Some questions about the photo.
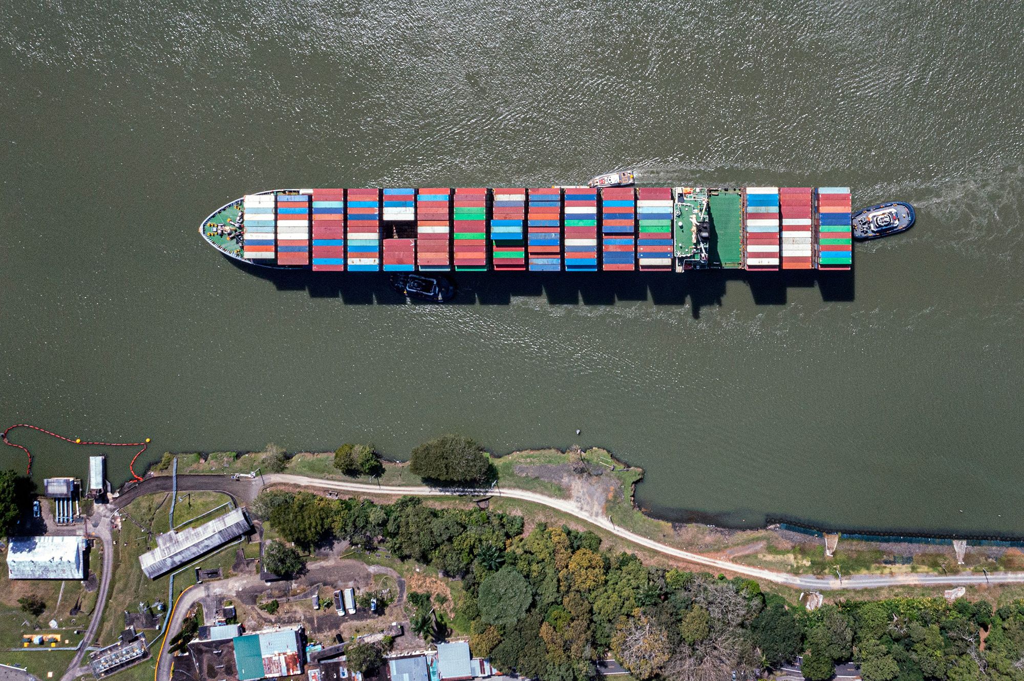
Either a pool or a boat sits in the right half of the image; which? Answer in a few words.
boat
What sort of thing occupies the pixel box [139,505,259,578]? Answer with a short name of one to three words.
building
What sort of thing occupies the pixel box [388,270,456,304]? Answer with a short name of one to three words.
boat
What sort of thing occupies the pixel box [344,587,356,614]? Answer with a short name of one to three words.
vehicle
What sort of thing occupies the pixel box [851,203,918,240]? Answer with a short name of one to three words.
boat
